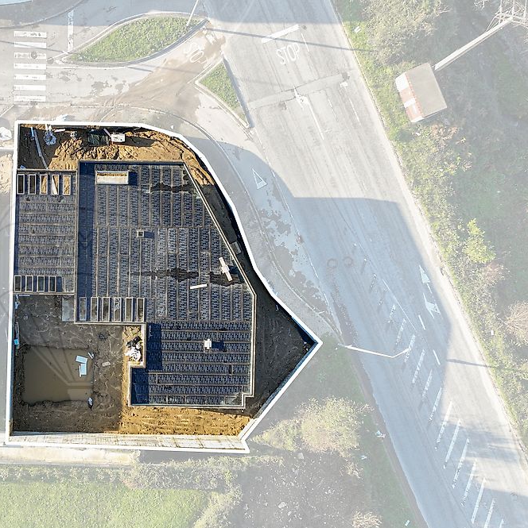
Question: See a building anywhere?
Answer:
Yes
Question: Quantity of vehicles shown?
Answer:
none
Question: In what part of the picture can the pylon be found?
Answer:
top right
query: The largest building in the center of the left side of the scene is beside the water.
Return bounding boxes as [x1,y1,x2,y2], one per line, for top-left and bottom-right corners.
[11,161,256,410]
